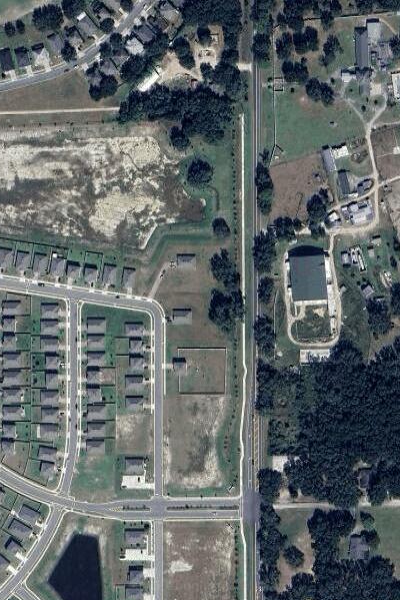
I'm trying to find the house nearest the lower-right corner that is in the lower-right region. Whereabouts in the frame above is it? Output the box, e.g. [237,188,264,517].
[351,536,369,559]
